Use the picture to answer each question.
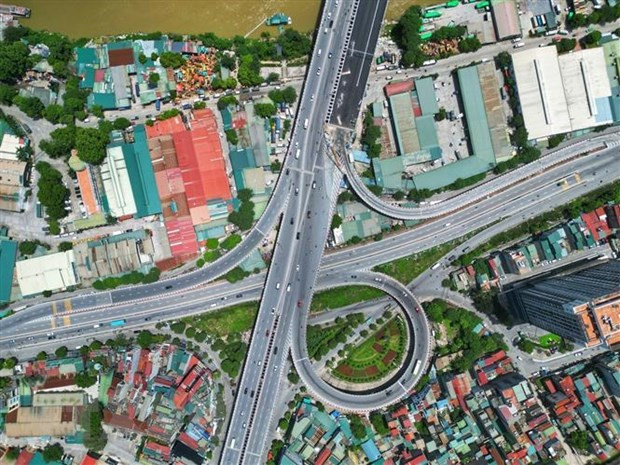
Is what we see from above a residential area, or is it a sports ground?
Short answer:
residential area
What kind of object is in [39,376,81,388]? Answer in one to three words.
house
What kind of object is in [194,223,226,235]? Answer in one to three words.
shed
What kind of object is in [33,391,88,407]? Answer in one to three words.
building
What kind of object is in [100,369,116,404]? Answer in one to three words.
house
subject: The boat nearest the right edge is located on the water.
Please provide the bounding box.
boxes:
[265,11,292,24]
